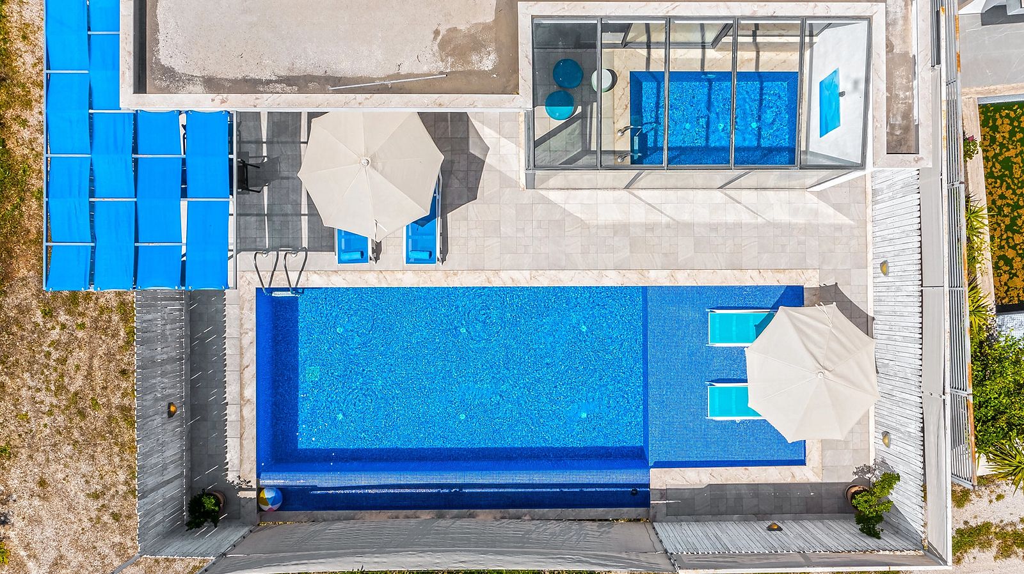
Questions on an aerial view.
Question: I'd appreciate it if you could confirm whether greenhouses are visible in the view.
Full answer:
Yes, a greenhouse can be made out from above.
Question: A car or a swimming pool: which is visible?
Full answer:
Looking from above, you can make out a swimming pool.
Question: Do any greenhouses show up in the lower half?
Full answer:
No, there's no greenhouse to be seen in the lower half.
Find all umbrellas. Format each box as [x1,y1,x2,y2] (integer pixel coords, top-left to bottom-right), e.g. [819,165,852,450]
[745,302,880,442]
[297,115,445,242]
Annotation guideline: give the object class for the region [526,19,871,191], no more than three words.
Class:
greenhouse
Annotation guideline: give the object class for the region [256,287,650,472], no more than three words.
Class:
swimming pool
